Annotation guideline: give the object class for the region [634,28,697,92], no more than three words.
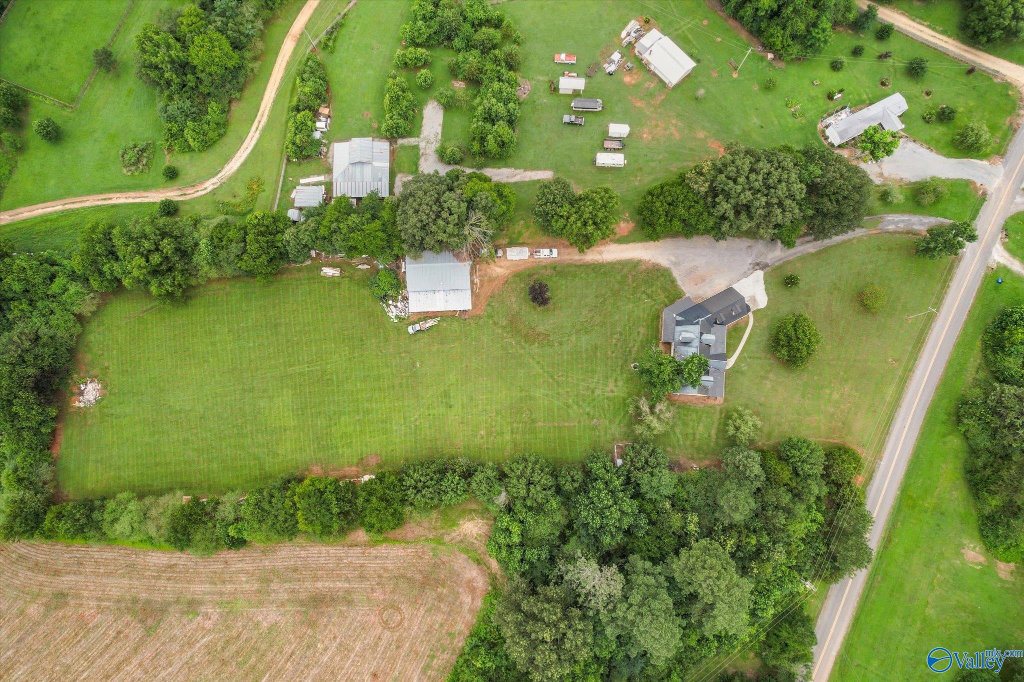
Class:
building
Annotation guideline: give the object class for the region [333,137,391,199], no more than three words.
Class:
shed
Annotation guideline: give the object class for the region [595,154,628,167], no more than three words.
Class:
vehicle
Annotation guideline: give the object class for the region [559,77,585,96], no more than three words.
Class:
shed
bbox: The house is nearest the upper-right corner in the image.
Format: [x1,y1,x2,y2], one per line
[824,93,908,149]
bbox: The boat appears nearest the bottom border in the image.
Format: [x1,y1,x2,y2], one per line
[571,99,607,111]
